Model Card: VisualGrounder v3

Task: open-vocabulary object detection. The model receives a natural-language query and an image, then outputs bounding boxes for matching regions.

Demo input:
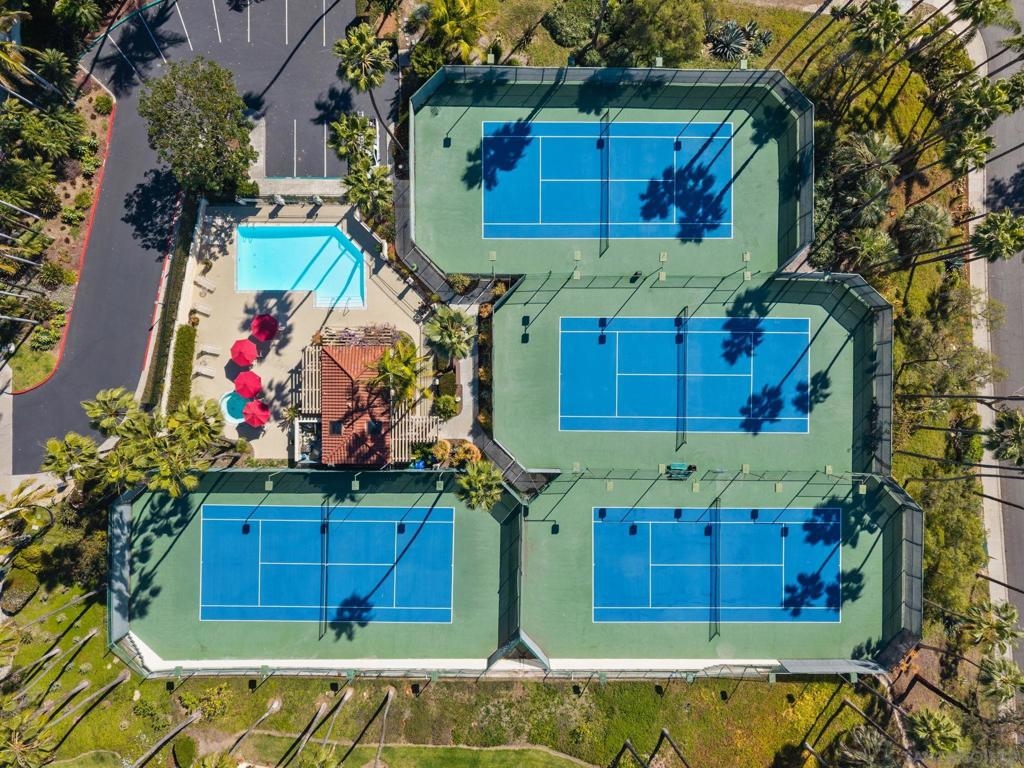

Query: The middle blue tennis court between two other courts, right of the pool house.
[493,278,872,471]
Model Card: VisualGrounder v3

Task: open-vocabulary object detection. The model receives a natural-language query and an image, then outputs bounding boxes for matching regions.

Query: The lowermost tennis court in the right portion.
[522,471,903,660]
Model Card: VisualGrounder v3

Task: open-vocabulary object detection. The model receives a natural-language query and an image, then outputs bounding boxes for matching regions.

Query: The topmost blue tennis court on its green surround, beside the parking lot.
[414,82,799,278]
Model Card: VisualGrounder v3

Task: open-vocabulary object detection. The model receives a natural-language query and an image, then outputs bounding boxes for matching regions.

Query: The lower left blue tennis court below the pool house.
[129,467,521,660]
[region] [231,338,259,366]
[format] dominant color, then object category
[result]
red umbrella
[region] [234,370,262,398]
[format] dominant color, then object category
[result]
red umbrella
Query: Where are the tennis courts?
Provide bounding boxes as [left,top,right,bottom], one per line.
[522,471,903,660]
[493,278,872,471]
[414,82,799,278]
[129,467,521,660]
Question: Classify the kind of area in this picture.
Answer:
sports ground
